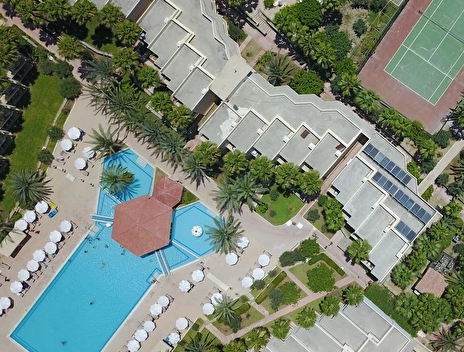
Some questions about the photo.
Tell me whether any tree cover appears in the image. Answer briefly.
Yes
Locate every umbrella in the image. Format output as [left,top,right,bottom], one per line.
[60,219,73,231]
[23,210,38,223]
[253,268,265,279]
[36,200,50,213]
[257,254,270,267]
[241,276,255,289]
[150,304,163,315]
[134,329,147,341]
[61,138,74,151]
[0,296,13,309]
[18,269,32,282]
[15,217,29,230]
[68,128,81,140]
[176,317,189,329]
[83,145,95,158]
[144,320,156,333]
[179,279,191,292]
[169,332,182,344]
[202,303,214,315]
[49,229,63,243]
[73,157,87,169]
[45,241,58,254]
[192,270,204,283]
[157,295,170,308]
[10,281,25,294]
[128,339,140,352]
[237,236,250,249]
[27,259,41,272]
[225,253,238,265]
[33,249,48,263]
